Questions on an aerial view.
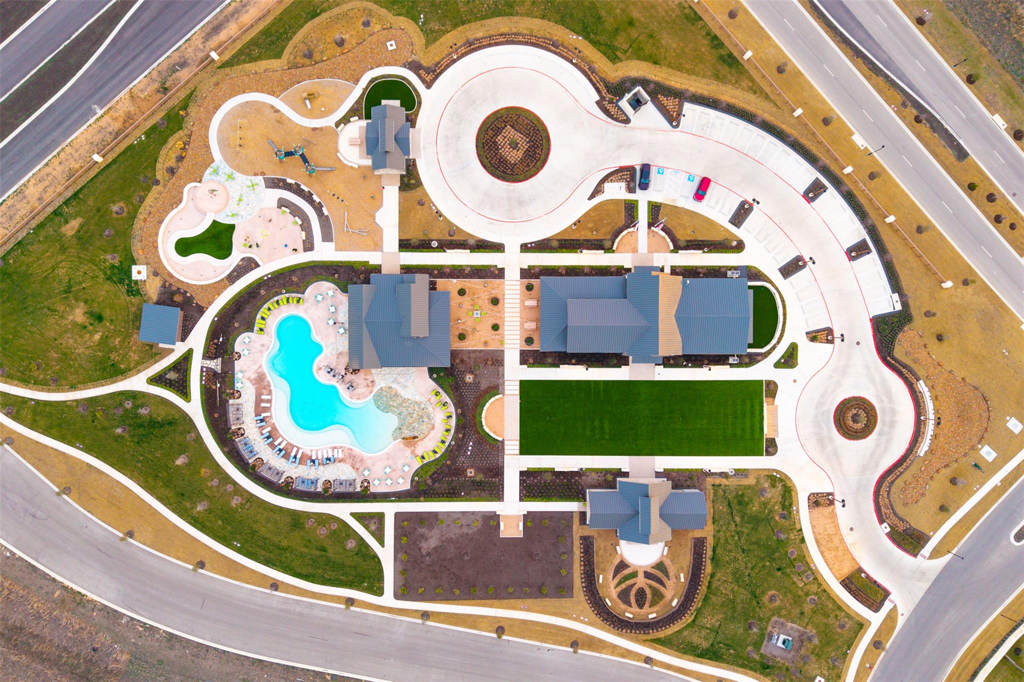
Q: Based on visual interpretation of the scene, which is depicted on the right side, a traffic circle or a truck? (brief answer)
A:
traffic circle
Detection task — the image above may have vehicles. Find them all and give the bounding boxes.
[638,163,651,191]
[694,176,712,203]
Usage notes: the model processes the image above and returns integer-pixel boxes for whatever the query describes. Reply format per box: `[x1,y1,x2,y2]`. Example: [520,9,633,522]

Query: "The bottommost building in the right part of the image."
[589,480,710,550]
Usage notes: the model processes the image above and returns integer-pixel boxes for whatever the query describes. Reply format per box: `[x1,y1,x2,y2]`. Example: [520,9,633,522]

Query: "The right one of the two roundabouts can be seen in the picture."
[797,360,914,477]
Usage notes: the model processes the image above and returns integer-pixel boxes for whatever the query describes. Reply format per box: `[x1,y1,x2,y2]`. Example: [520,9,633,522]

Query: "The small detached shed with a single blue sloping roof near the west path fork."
[140,304,185,345]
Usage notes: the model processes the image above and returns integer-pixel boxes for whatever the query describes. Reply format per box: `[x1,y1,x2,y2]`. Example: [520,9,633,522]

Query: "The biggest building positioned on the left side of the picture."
[345,273,450,369]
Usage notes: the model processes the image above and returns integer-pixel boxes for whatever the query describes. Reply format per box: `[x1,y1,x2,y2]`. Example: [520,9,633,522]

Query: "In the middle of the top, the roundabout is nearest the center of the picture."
[437,68,589,220]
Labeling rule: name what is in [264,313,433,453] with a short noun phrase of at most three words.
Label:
swimming pool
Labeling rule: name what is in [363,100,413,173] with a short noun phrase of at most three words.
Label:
building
